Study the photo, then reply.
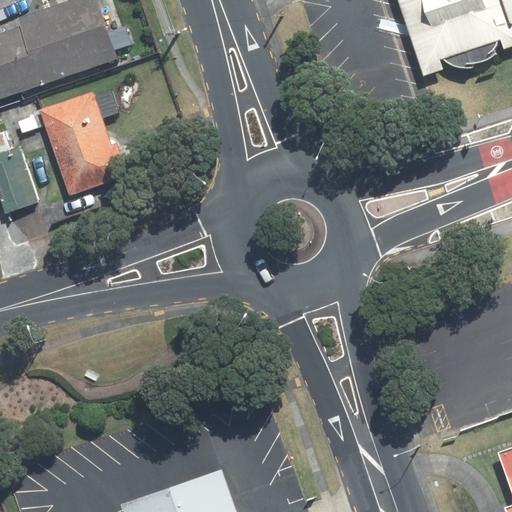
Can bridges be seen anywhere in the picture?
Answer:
No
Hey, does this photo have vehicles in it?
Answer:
Yes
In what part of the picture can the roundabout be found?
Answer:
center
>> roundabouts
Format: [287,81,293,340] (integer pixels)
[266,198,326,265]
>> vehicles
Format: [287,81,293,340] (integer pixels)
[376,18,406,34]
[0,0,30,21]
[32,156,49,185]
[63,193,96,213]
[256,258,274,284]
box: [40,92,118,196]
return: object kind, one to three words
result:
house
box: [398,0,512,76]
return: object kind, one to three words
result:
building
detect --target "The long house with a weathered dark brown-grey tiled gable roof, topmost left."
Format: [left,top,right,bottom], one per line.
[0,0,117,102]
